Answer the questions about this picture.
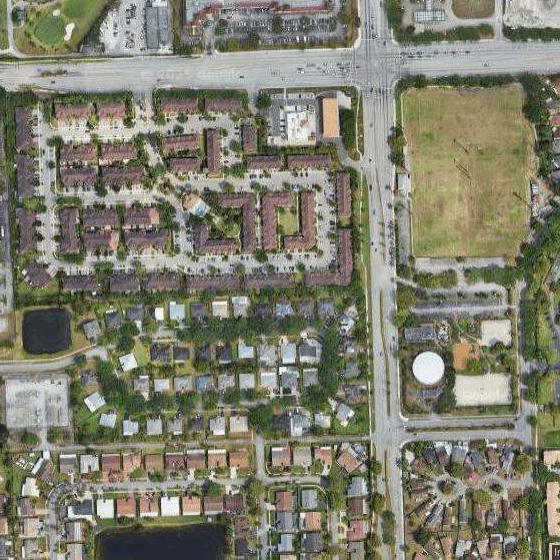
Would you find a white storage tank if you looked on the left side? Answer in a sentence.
No, there is no white storage tank on the left side.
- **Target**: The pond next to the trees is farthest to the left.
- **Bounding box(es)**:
[23,310,69,354]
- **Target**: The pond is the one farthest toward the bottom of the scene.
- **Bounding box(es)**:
[97,525,233,560]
